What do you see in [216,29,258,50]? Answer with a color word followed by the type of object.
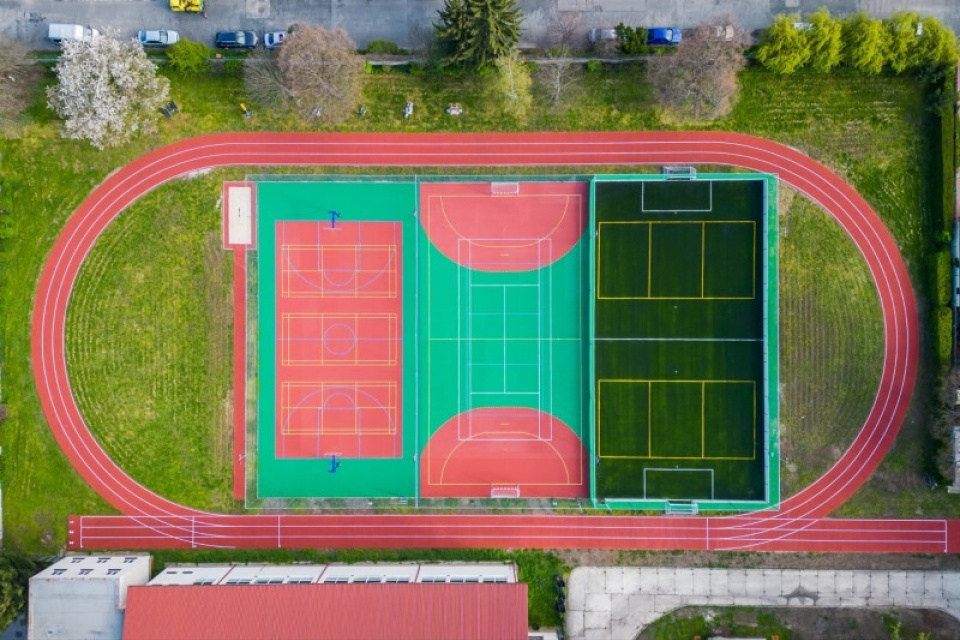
blue car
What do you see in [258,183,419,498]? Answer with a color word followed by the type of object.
red basketball court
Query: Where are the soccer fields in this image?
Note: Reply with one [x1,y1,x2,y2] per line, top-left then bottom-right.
[590,171,763,510]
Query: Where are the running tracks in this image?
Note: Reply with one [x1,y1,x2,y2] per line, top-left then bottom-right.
[32,132,960,554]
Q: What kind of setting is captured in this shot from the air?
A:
sports ground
